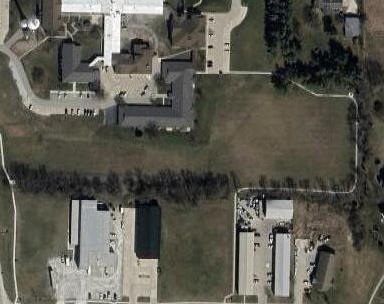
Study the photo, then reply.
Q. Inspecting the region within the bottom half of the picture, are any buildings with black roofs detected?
Yes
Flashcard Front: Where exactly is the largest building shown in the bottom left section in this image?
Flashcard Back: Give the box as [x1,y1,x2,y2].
[72,199,109,268]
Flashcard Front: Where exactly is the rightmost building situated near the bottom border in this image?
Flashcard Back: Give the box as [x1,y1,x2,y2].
[310,250,337,292]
